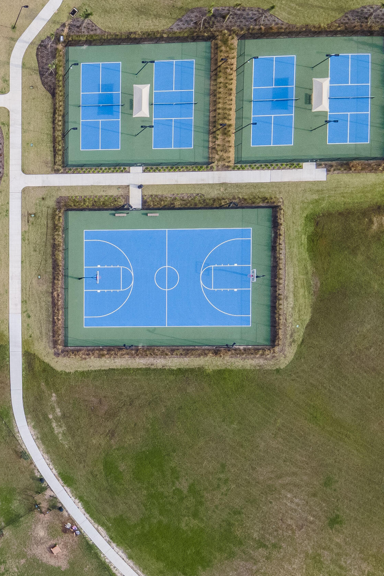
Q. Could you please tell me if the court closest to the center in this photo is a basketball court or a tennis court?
basketball court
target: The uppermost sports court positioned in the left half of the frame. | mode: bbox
[64,41,212,168]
